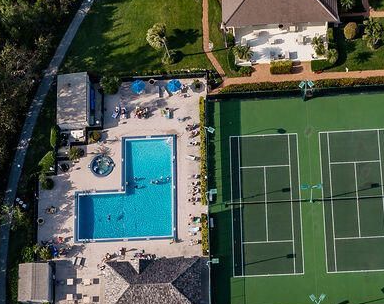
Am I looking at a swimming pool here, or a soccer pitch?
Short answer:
swimming pool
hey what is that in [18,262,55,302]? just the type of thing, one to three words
shed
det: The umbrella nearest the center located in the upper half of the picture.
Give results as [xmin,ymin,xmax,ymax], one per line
[167,79,182,94]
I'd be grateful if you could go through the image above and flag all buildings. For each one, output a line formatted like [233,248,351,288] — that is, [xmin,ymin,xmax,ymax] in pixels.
[105,257,211,304]
[18,262,55,302]
[222,0,339,33]
[57,73,104,146]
